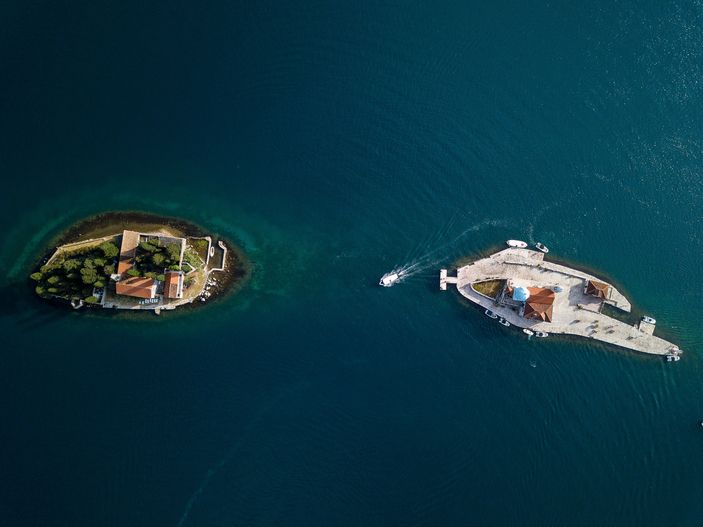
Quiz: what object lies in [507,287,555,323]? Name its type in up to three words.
building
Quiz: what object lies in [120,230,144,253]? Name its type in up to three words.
house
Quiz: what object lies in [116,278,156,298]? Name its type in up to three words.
house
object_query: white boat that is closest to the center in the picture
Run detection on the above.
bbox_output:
[380,272,400,285]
